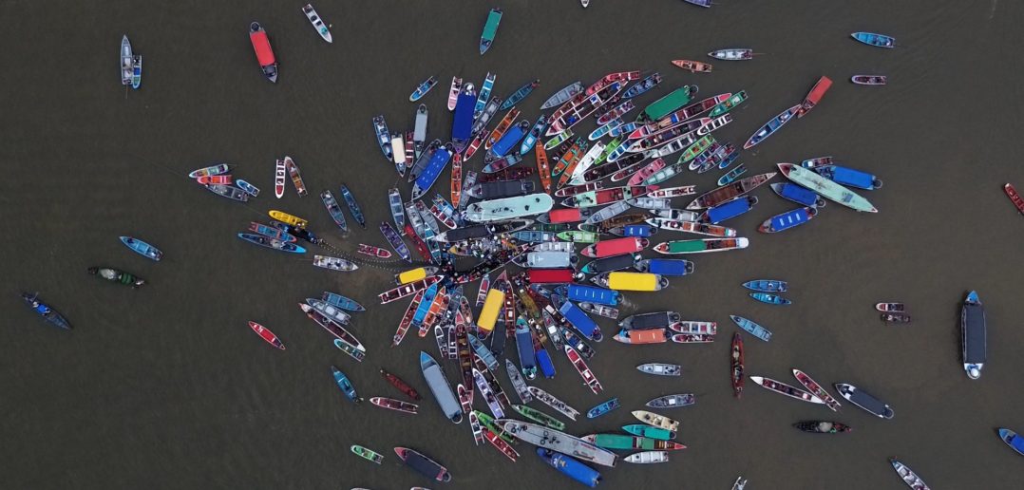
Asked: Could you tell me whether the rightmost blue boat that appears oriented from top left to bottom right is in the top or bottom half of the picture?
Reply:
bottom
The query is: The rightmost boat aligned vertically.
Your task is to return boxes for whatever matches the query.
[961,291,984,374]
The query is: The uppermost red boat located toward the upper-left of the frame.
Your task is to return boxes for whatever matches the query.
[250,25,278,82]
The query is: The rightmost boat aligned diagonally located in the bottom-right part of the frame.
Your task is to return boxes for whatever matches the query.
[998,428,1024,451]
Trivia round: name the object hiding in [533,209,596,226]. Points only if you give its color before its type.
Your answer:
red boat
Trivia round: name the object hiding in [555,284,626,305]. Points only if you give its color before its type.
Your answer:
blue boat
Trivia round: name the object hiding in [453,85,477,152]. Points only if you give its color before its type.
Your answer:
blue boat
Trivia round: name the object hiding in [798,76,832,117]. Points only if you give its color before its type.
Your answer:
red boat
